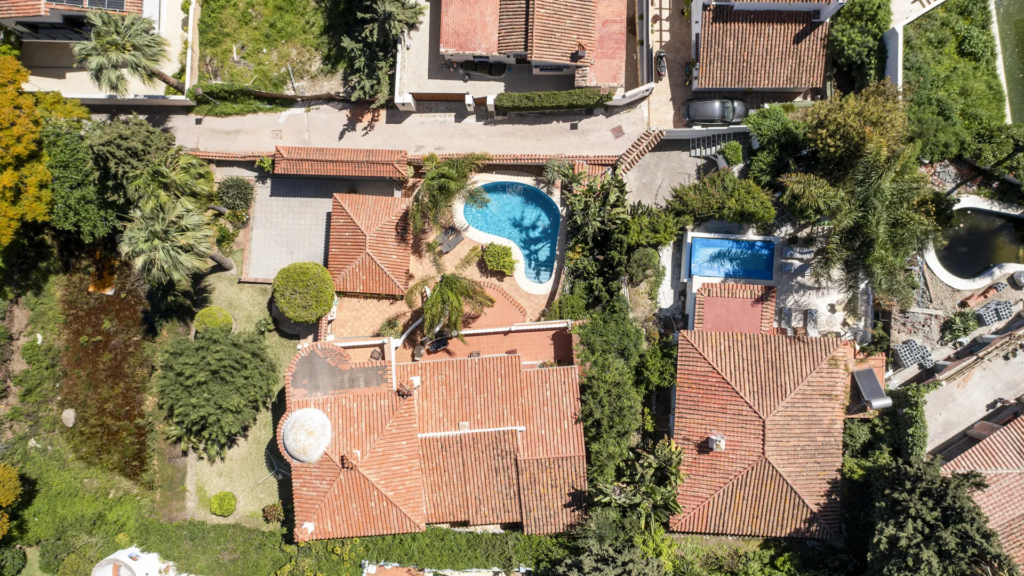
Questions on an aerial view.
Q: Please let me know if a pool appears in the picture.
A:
Yes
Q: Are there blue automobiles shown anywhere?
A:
No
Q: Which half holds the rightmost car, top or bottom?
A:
top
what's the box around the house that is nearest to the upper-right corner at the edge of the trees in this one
[683,0,848,98]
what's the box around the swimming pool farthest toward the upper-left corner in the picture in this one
[454,171,568,294]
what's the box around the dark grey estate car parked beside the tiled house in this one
[681,96,746,128]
